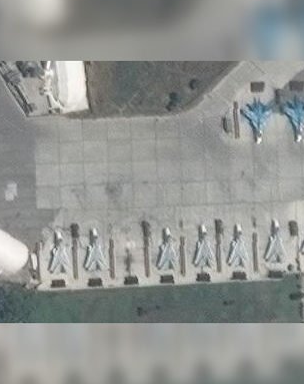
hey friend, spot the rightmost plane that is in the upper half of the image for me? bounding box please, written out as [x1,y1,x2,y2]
[283,98,304,142]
